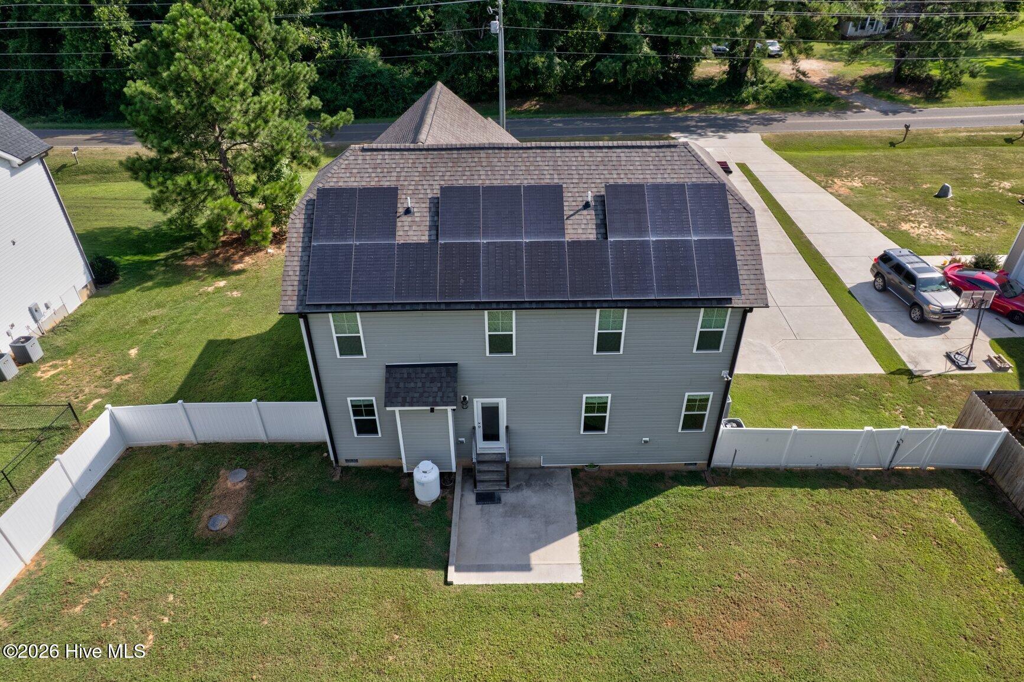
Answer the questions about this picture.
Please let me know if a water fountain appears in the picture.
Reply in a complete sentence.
No, the photo shows no water fountain.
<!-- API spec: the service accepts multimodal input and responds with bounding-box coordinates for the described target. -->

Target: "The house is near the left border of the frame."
[0,117,97,353]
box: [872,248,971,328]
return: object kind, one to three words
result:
car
